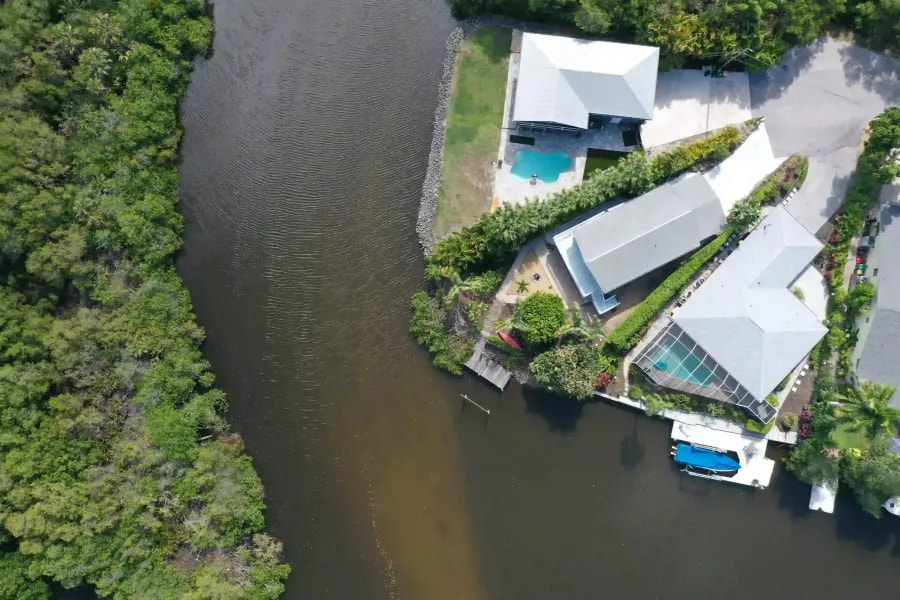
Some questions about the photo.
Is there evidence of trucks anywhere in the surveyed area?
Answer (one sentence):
No, the photo shows no truck.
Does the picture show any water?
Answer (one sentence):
Yes, there's water in this view.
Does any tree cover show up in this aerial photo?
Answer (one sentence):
Yes, tree cover can be seen from above here.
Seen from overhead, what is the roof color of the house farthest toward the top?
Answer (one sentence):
From above, the roof of the house farthest toward the top looks white.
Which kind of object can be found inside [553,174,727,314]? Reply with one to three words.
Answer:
house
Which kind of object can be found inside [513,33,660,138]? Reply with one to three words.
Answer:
house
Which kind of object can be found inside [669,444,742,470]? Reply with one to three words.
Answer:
boat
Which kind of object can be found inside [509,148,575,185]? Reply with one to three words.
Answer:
swimming pool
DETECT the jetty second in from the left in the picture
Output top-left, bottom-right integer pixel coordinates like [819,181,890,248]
[668,421,775,489]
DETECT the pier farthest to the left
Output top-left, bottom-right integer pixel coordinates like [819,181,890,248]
[467,330,512,391]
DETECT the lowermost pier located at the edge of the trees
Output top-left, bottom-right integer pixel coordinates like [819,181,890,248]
[808,461,839,513]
